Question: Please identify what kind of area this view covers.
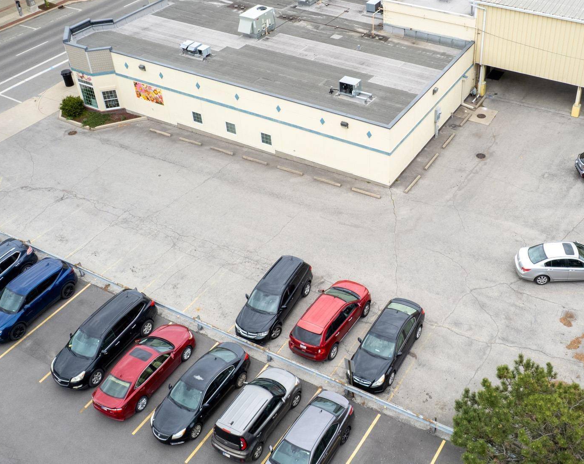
parking lot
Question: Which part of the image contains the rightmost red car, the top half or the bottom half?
bottom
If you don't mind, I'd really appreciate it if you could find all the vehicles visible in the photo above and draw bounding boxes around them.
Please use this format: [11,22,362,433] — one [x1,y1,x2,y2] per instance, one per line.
[235,254,313,347]
[289,283,371,367]
[350,302,423,393]
[93,328,193,422]
[0,239,35,292]
[267,399,348,464]
[517,241,584,285]
[0,259,75,344]
[148,345,249,450]
[49,290,157,396]
[210,372,302,464]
